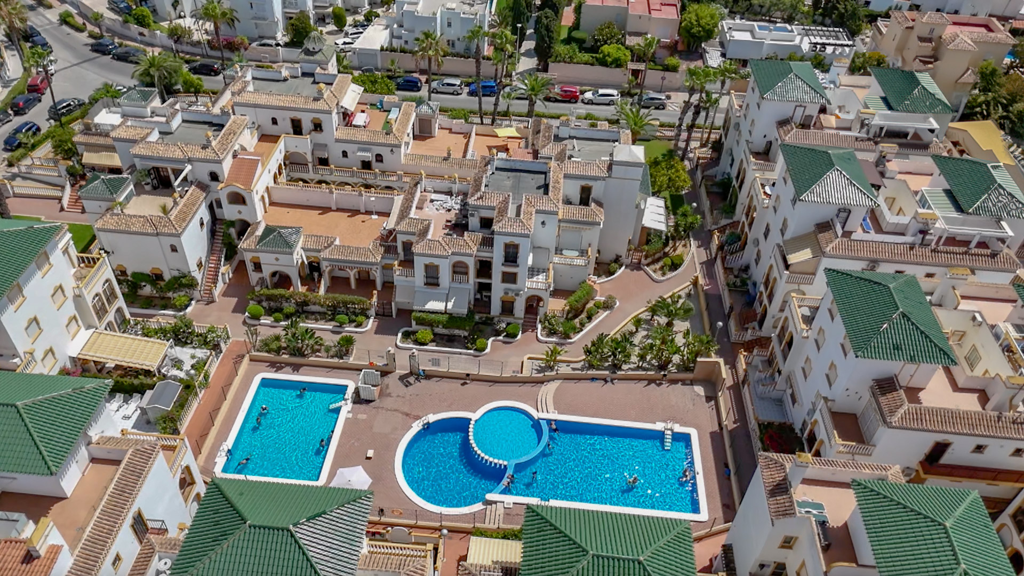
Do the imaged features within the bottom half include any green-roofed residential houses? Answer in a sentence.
Yes, you'll find a green-roofed residential house within the bottom half.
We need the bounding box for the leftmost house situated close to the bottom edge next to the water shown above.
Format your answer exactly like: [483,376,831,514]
[0,368,206,576]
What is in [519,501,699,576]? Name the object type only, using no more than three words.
house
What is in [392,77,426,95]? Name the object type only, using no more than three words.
car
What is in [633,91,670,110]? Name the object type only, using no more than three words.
car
